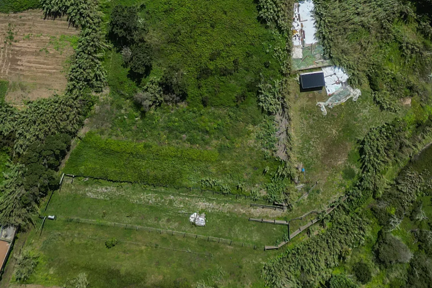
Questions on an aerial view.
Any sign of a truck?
No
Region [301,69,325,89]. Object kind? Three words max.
shed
